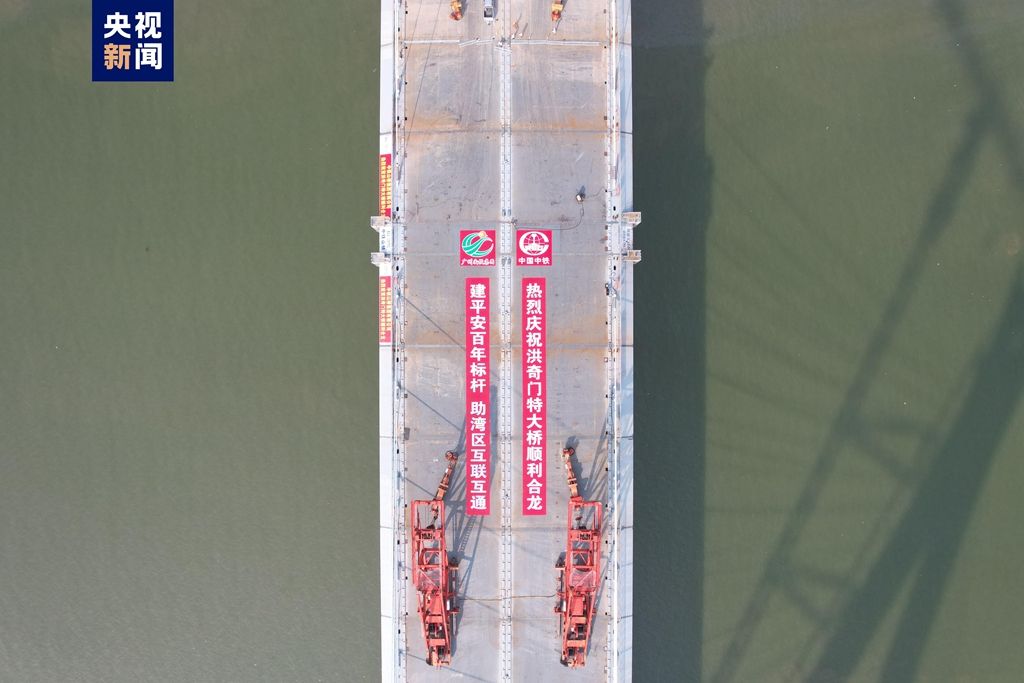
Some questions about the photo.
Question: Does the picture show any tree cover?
No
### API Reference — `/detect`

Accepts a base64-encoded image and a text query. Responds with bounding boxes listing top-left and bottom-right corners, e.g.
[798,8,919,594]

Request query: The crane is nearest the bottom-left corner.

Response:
[410,450,461,668]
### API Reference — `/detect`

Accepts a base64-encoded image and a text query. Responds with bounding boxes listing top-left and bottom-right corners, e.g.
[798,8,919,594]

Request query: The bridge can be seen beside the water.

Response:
[381,0,633,683]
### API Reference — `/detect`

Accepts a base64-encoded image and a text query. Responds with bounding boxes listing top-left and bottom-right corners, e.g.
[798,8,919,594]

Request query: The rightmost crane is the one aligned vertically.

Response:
[552,449,603,668]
